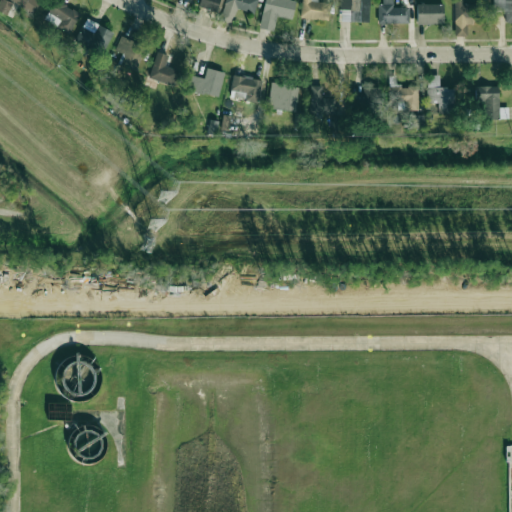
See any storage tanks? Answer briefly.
Yes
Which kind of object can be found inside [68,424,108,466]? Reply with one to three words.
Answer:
storage tank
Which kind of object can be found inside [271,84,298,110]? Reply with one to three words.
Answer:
house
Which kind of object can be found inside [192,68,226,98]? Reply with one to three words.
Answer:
house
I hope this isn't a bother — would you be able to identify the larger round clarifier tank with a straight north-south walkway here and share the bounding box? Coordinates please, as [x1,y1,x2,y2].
[55,352,102,403]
